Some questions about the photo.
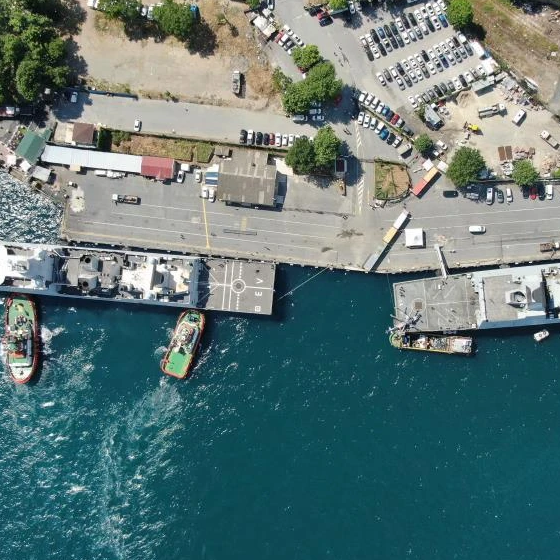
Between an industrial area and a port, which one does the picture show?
port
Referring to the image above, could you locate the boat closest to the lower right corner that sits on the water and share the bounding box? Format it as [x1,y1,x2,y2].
[532,329,549,342]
